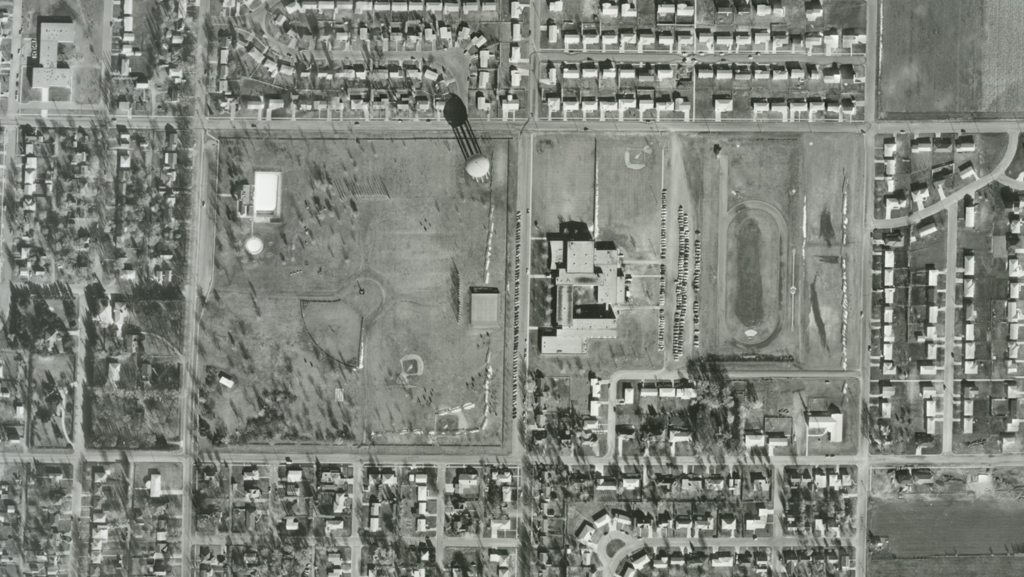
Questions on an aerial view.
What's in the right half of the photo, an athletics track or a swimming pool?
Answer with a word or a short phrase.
athletics track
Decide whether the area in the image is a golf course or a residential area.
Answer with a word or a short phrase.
residential area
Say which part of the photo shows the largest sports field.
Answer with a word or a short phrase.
right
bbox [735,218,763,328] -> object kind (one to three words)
sports field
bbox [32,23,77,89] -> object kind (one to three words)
building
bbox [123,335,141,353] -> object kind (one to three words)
house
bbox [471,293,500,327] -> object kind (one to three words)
tennis court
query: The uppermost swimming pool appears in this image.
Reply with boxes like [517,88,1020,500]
[254,172,281,222]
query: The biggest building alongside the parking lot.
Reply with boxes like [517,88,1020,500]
[542,240,625,354]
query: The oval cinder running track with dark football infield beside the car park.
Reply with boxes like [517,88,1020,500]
[718,155,787,351]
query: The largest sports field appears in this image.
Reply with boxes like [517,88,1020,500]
[697,132,864,371]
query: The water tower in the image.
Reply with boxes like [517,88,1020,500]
[466,153,490,183]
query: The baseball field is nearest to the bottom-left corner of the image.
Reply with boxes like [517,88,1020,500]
[301,301,362,367]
